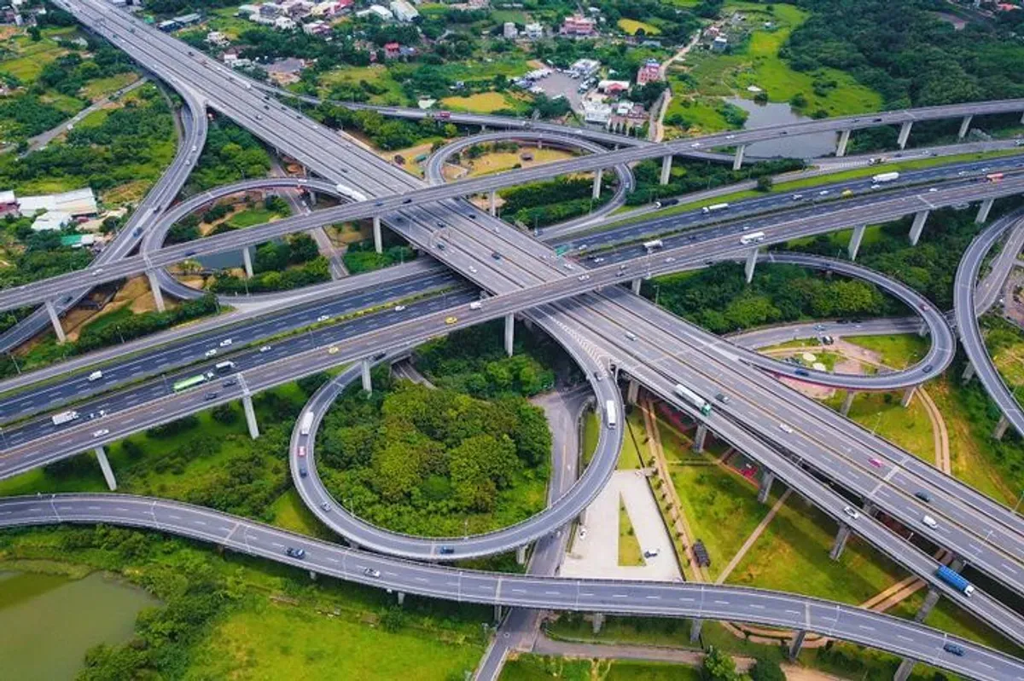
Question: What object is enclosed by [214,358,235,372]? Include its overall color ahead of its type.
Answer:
white vehicle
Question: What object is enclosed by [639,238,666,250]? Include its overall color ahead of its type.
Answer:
white vehicle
